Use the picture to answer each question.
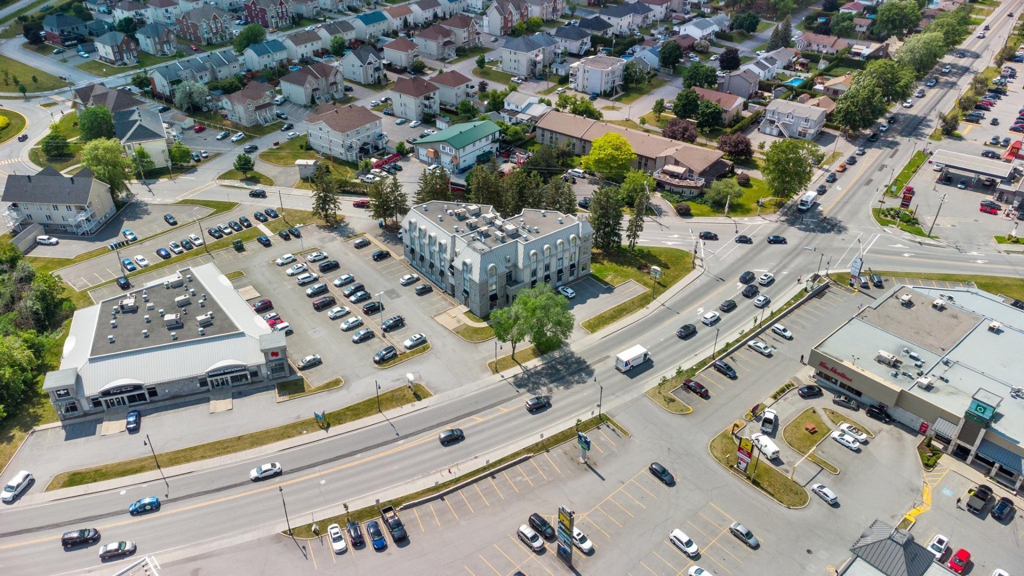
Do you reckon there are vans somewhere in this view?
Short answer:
Yes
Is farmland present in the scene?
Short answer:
No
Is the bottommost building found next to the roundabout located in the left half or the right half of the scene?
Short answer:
left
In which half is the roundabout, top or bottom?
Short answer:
top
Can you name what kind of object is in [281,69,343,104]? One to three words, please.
house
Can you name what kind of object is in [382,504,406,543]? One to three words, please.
truck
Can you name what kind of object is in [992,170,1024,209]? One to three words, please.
building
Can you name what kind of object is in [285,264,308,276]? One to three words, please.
vehicle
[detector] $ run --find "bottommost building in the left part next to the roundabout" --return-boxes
[42,263,293,420]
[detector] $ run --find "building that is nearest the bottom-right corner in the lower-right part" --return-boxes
[829,518,938,576]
